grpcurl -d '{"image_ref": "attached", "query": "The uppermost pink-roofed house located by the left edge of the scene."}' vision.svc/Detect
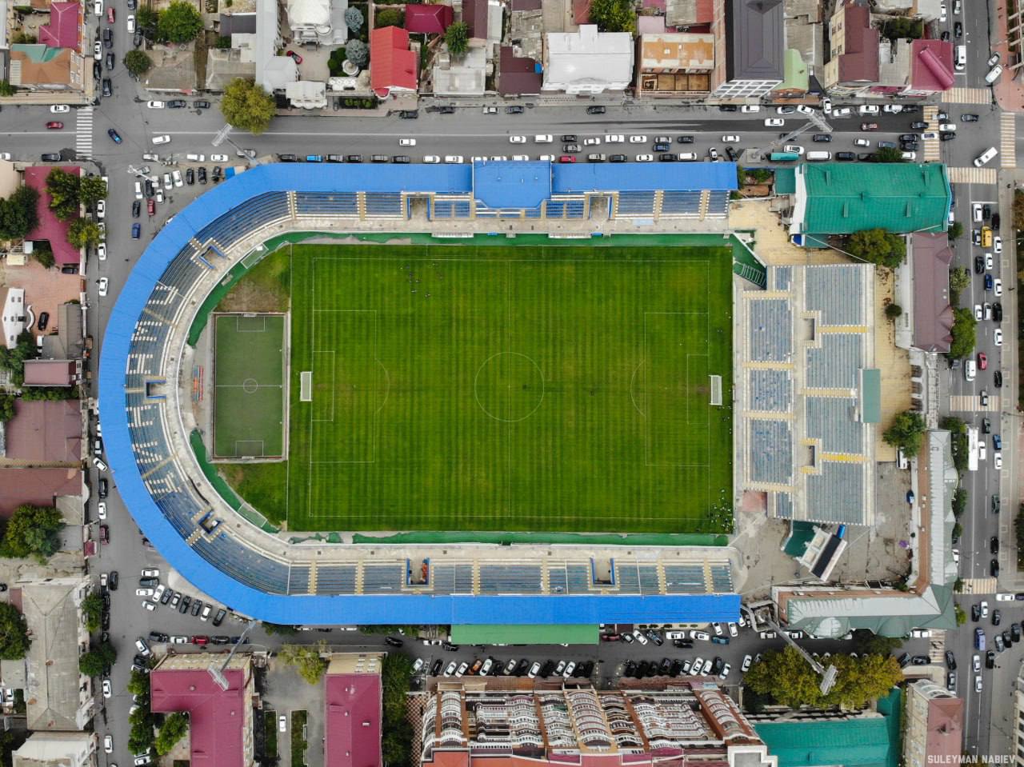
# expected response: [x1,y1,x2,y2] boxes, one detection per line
[37,2,83,59]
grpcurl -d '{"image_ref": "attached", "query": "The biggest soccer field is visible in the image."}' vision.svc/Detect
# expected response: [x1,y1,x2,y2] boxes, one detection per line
[287,245,733,535]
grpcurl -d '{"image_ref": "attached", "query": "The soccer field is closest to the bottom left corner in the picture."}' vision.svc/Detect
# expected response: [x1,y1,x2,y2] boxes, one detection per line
[208,310,289,463]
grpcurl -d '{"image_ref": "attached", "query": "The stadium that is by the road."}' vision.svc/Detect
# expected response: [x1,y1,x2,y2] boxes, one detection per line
[98,161,741,624]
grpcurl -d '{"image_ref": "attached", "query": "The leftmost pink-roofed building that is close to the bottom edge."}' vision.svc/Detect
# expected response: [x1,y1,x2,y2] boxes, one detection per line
[150,654,253,767]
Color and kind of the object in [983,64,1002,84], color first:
white vehicle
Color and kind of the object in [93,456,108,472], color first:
white car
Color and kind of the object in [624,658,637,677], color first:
black vehicle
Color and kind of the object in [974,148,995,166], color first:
white vehicle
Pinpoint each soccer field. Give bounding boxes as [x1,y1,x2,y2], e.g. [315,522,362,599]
[208,310,289,463]
[287,245,733,535]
